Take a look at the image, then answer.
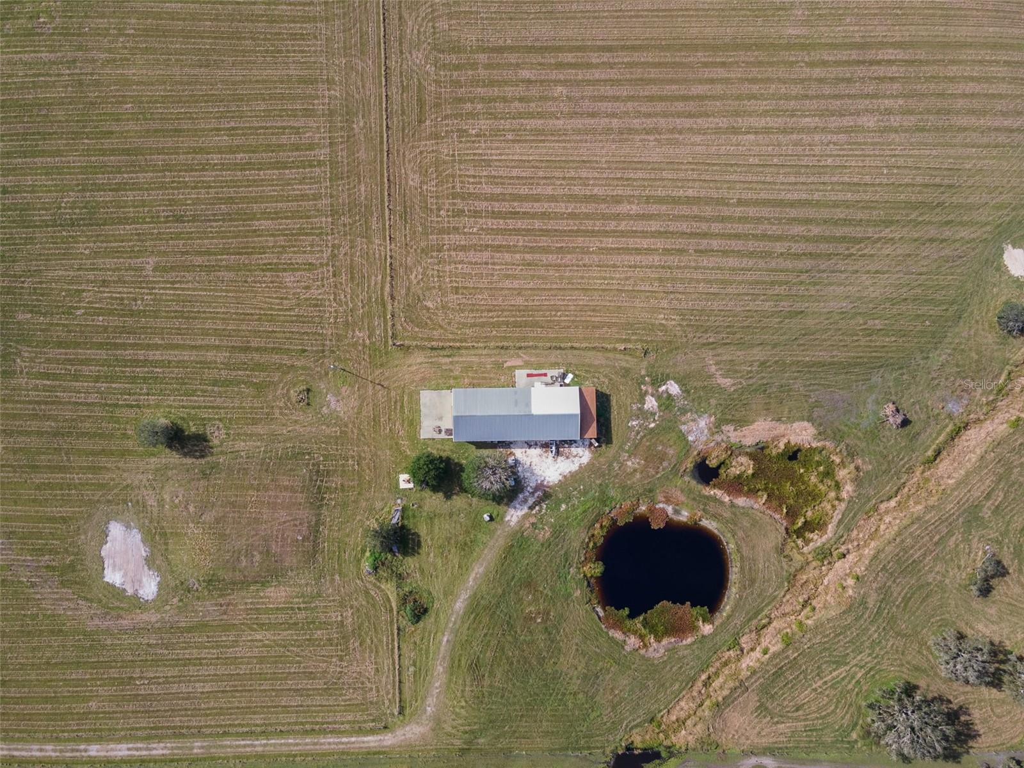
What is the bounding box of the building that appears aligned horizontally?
[451,382,597,442]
